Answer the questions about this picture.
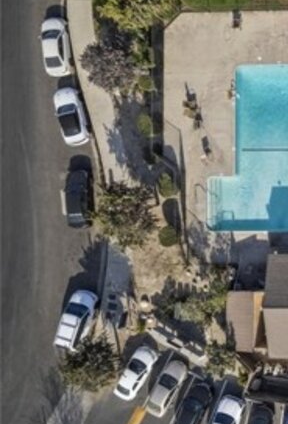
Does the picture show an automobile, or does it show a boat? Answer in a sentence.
Visible in the photo is an automobile.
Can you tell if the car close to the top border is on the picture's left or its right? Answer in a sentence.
The car close to the top border is on the left side of the image.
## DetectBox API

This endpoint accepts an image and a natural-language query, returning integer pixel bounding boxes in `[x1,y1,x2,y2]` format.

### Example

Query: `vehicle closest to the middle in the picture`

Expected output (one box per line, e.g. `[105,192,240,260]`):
[62,166,94,224]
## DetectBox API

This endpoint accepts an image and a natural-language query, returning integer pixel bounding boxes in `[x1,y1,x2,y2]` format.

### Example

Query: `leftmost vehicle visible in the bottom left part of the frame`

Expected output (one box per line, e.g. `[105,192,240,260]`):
[56,291,97,347]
